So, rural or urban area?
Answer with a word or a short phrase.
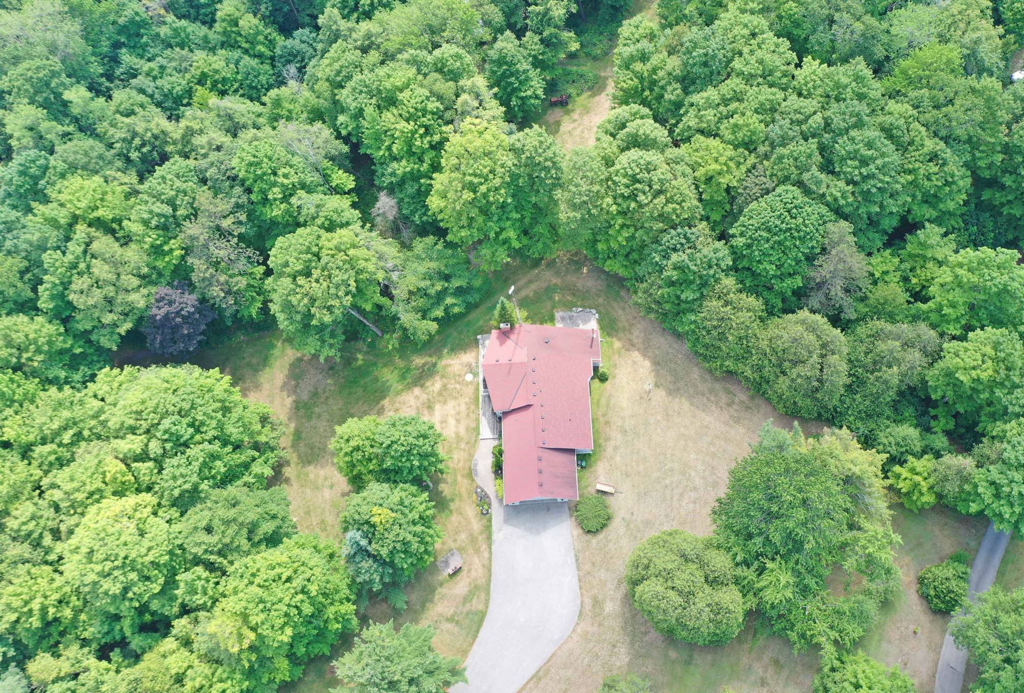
rural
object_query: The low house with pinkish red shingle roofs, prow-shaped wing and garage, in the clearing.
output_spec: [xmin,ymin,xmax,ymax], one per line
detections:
[482,322,606,506]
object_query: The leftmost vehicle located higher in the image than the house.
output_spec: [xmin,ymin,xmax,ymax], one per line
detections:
[549,93,572,109]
